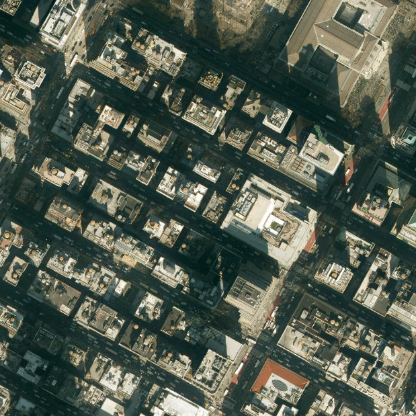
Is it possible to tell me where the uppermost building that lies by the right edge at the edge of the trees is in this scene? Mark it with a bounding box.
[278,0,398,93]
